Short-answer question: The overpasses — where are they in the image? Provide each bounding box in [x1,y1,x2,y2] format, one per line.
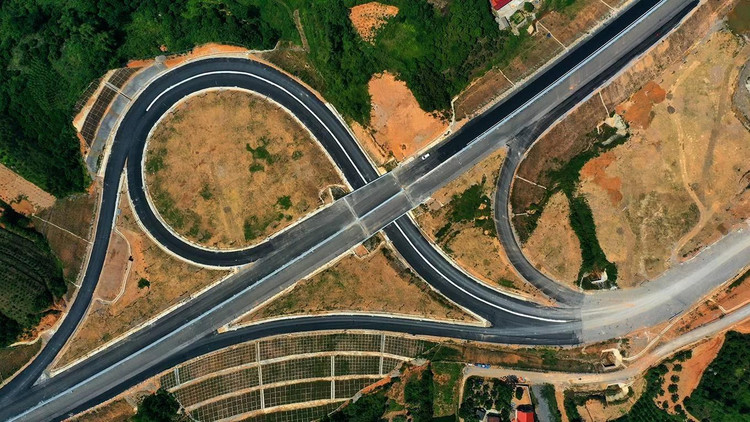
[344,173,414,237]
